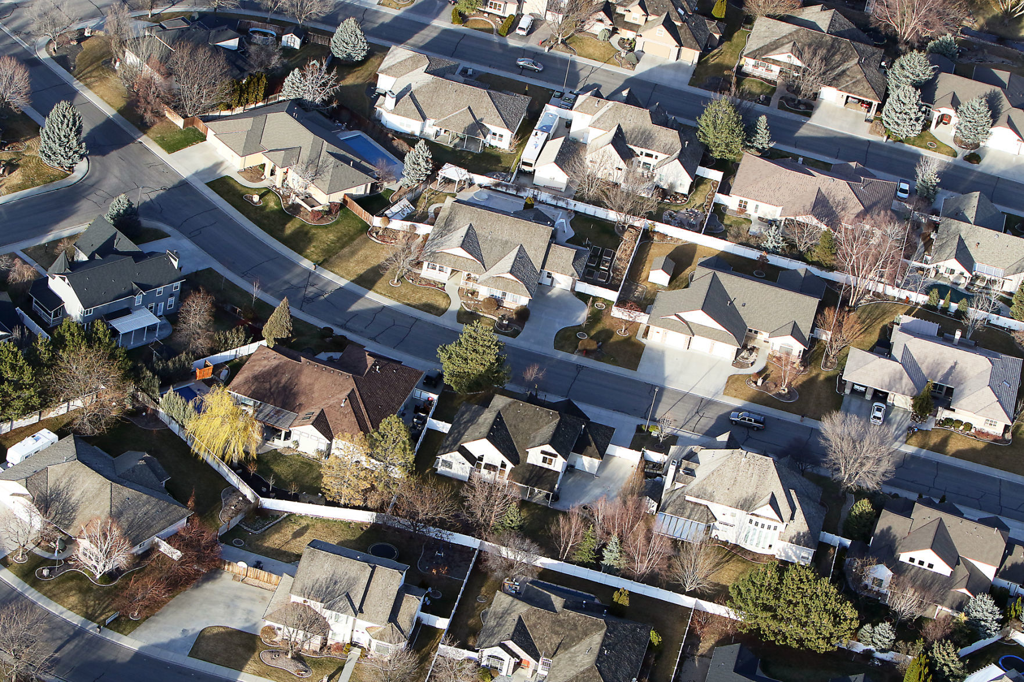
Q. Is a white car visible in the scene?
Yes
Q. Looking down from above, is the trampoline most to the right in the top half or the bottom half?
bottom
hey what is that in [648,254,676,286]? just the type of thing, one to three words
shed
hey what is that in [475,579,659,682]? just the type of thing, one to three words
house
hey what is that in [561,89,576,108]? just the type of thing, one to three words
vehicle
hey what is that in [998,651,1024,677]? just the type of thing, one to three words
trampoline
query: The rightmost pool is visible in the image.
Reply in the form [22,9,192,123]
[923,282,1003,314]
